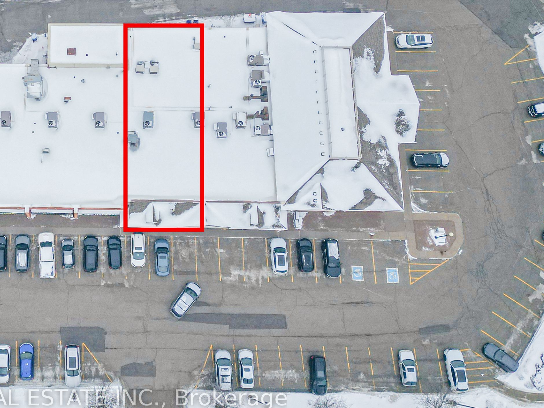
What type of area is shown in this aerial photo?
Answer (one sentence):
What you see here is a parking lot.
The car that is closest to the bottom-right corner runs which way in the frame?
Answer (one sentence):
The car that is closest to the bottom-right corner runs at an angle in the image.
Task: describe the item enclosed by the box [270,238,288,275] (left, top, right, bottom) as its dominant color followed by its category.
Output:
white car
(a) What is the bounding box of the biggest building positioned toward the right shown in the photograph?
[260,11,409,212]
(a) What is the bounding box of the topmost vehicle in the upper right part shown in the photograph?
[393,31,435,50]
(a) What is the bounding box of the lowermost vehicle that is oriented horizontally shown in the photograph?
[410,150,449,168]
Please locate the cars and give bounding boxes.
[17,343,36,381]
[237,350,256,389]
[443,348,470,393]
[398,351,418,387]
[480,342,520,376]
[0,345,12,383]
[13,236,31,273]
[154,239,171,277]
[0,236,9,272]
[106,236,124,269]
[297,239,315,273]
[270,238,288,275]
[63,345,82,387]
[410,150,449,168]
[61,239,77,269]
[129,233,147,268]
[309,356,329,395]
[82,236,100,273]
[215,350,234,392]
[393,31,435,50]
[170,284,199,318]
[322,239,344,278]
[524,100,544,118]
